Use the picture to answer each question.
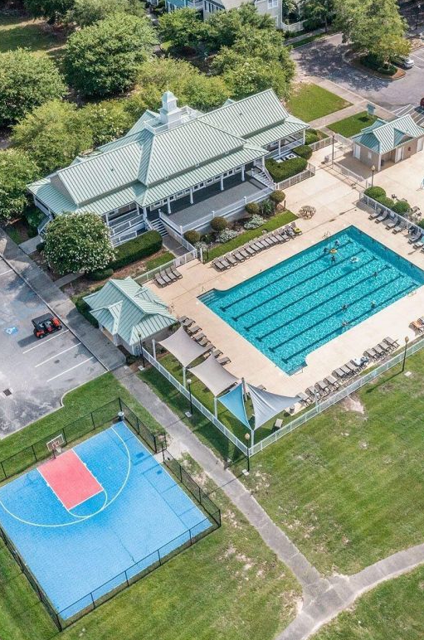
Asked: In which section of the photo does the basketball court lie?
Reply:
bottom left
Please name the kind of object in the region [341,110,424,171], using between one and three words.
building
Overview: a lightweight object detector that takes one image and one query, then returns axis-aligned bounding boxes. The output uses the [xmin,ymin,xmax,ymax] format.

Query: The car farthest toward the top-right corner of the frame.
[393,53,421,67]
